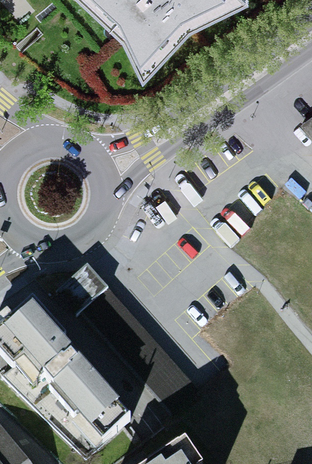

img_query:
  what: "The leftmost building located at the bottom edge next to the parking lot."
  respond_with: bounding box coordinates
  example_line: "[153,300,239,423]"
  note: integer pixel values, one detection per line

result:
[0,295,130,461]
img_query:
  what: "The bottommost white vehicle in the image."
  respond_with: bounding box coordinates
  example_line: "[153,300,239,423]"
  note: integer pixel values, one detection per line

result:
[188,304,209,326]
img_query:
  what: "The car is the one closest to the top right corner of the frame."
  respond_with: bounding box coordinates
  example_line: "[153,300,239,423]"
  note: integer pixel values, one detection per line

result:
[294,97,310,118]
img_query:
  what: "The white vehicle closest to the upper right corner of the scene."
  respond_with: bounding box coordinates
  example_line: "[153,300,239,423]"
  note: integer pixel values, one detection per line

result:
[293,126,312,146]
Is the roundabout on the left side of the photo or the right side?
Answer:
left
